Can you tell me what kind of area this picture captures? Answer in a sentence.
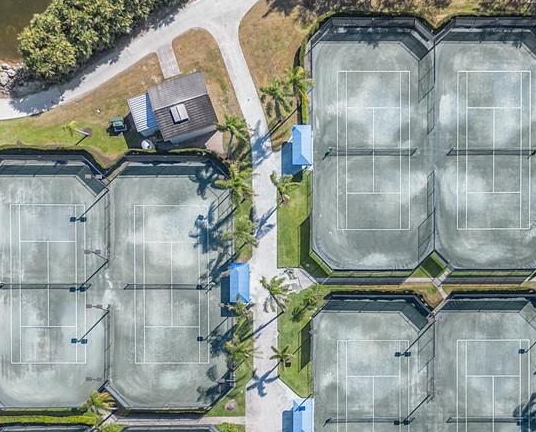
This image shows a sports ground.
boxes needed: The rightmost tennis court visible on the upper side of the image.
[434,27,536,269]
